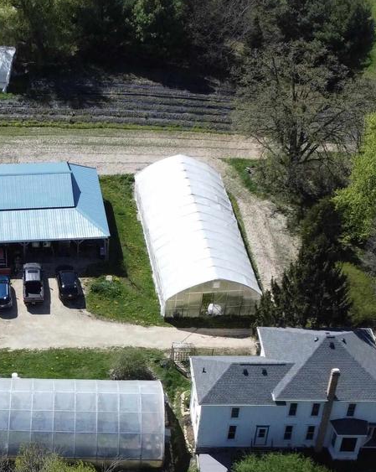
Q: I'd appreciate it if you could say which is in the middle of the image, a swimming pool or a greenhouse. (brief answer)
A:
greenhouse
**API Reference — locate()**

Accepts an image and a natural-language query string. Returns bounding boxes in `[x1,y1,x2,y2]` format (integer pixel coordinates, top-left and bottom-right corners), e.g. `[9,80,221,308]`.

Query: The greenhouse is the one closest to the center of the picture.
[135,158,263,318]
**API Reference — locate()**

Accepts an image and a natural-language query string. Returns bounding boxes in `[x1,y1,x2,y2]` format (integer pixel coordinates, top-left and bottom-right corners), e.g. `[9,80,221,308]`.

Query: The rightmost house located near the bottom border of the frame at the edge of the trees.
[190,328,376,465]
